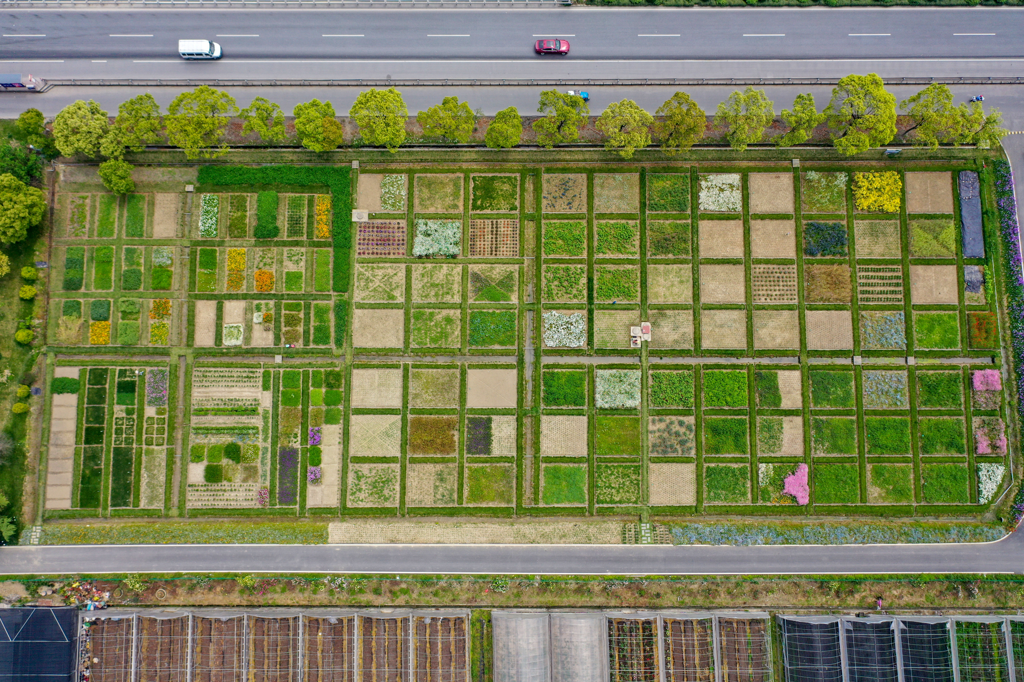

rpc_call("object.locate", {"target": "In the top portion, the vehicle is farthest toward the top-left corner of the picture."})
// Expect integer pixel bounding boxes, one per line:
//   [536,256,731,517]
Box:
[176,41,221,61]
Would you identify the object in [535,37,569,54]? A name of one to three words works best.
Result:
car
